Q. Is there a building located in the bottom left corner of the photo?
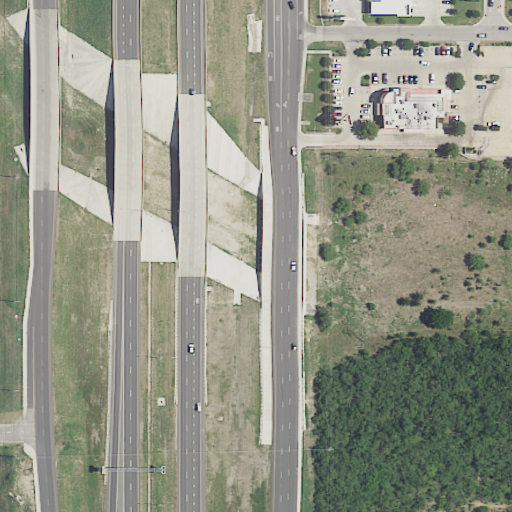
No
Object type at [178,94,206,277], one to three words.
bridge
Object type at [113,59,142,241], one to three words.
bridge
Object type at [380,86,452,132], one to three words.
building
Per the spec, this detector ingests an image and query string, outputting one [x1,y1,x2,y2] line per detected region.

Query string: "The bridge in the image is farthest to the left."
[30,9,60,190]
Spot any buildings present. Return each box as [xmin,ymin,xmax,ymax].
[380,86,452,132]
[362,0,412,15]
